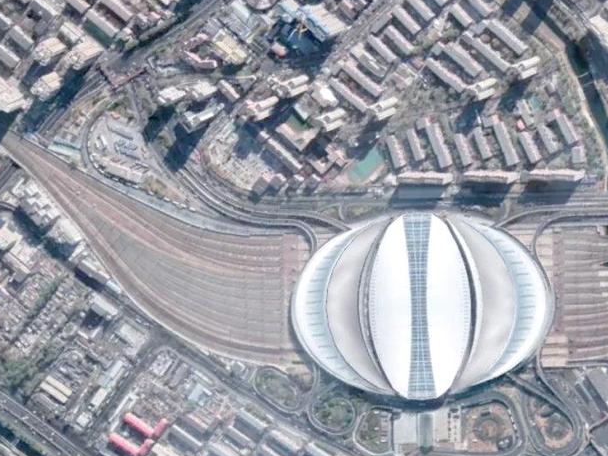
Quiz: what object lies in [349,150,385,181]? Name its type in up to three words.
sports court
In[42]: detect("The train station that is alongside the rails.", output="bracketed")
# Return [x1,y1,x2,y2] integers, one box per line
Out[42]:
[291,211,556,399]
